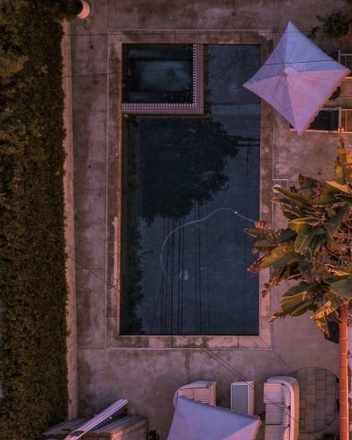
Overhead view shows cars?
No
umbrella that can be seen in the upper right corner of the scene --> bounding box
[243,22,352,135]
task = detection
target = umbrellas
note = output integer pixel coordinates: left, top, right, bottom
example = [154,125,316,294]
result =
[243,22,352,135]
[171,393,264,440]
